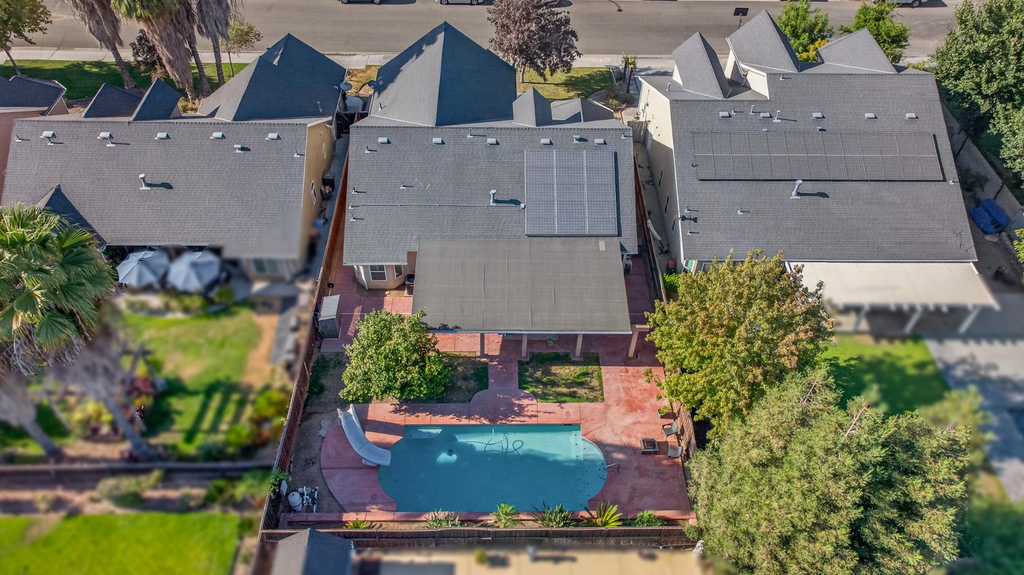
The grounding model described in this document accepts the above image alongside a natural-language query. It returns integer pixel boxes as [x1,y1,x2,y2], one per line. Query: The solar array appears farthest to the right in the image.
[692,132,942,181]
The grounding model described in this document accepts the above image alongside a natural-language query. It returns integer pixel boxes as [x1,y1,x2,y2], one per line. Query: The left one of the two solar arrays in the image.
[524,148,619,235]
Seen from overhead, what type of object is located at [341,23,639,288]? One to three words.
house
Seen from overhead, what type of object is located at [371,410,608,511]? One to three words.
swimming pool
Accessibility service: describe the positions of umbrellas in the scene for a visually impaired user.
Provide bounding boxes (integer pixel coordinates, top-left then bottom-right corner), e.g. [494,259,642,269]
[166,254,223,306]
[117,249,173,305]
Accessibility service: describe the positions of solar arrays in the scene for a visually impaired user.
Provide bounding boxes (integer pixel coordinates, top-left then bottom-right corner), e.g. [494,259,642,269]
[692,132,942,181]
[524,148,619,235]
